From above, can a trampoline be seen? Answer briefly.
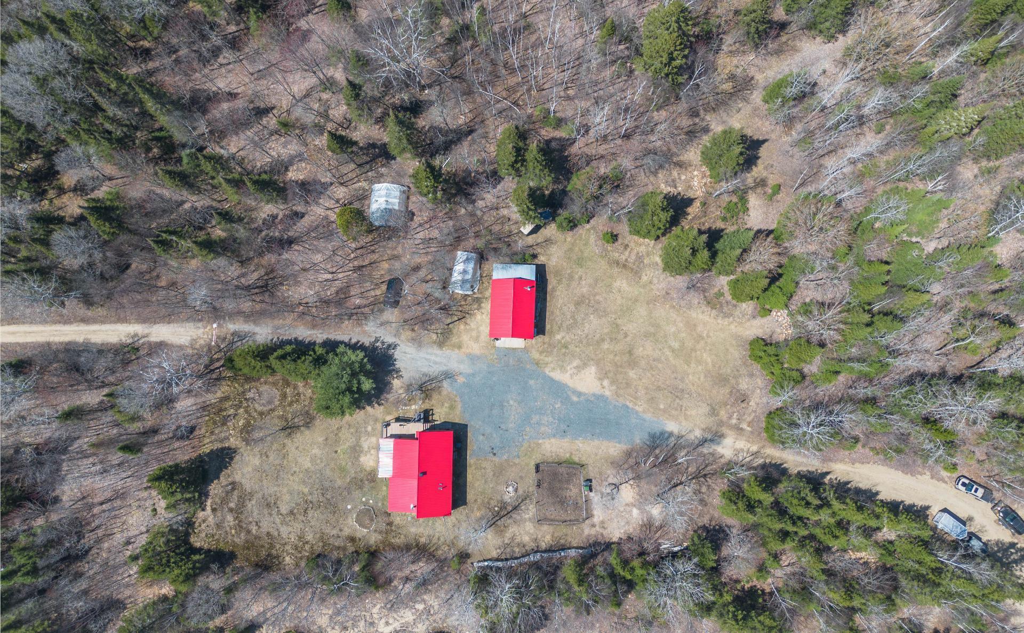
No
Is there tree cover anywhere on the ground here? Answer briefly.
Yes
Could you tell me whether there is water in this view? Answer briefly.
No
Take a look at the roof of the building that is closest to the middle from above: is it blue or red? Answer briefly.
red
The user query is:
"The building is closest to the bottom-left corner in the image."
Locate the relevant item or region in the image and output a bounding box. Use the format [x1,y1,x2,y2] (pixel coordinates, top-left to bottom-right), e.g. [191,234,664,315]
[380,408,453,518]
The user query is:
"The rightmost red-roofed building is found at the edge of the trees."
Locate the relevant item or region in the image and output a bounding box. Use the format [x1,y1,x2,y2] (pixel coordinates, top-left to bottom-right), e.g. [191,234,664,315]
[490,263,537,339]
